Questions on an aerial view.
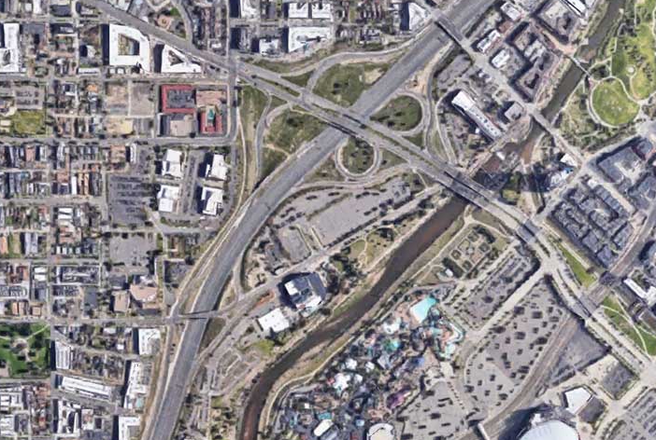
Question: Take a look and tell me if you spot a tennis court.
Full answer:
No, no tennis court is visible in the view.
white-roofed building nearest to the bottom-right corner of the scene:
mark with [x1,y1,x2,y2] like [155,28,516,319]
[565,387,589,413]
